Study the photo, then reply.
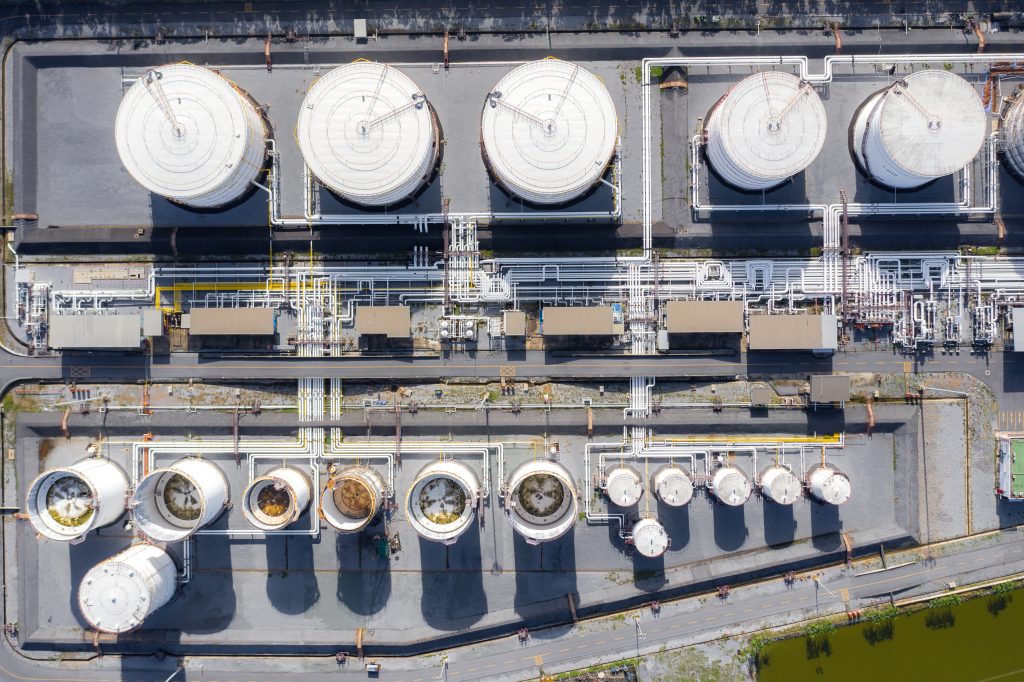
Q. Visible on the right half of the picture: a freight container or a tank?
tank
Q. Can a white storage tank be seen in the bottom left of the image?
Yes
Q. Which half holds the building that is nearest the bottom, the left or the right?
right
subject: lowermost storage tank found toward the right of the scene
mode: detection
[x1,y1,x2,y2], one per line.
[628,515,669,558]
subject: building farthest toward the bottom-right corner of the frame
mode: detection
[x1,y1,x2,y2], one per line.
[992,436,1024,500]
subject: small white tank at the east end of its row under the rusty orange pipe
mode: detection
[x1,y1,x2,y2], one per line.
[806,465,852,504]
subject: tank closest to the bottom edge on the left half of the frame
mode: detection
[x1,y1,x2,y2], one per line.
[76,543,179,635]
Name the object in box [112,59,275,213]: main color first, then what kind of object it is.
white storage tank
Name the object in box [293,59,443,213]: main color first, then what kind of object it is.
white storage tank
